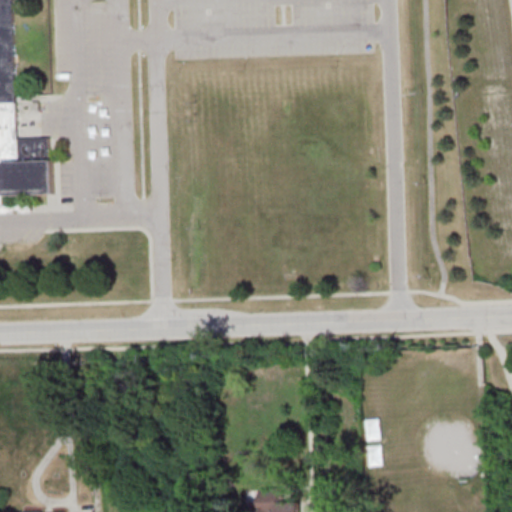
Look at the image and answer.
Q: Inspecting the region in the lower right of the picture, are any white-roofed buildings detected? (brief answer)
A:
Yes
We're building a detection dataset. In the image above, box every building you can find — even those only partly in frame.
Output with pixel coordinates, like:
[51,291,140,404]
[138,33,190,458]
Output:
[254,489,298,512]
[0,0,49,194]
[366,444,384,470]
[364,418,382,442]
